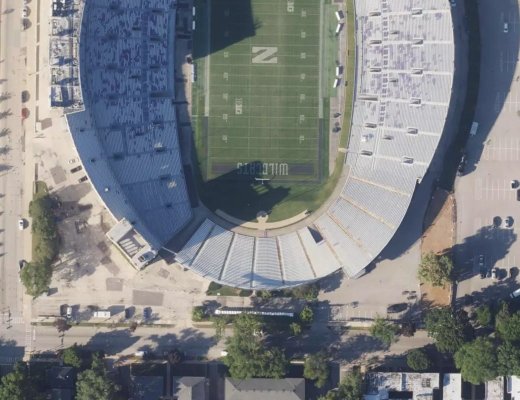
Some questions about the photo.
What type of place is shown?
sports ground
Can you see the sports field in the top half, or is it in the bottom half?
top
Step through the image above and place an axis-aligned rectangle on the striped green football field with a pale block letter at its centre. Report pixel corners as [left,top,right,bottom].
[192,0,338,223]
